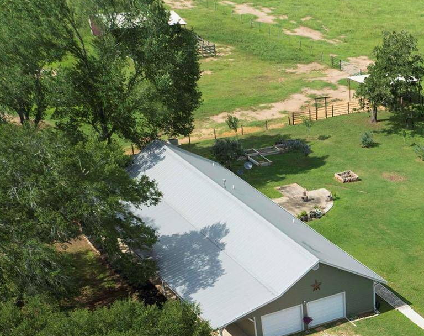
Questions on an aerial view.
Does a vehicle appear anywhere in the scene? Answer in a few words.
No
